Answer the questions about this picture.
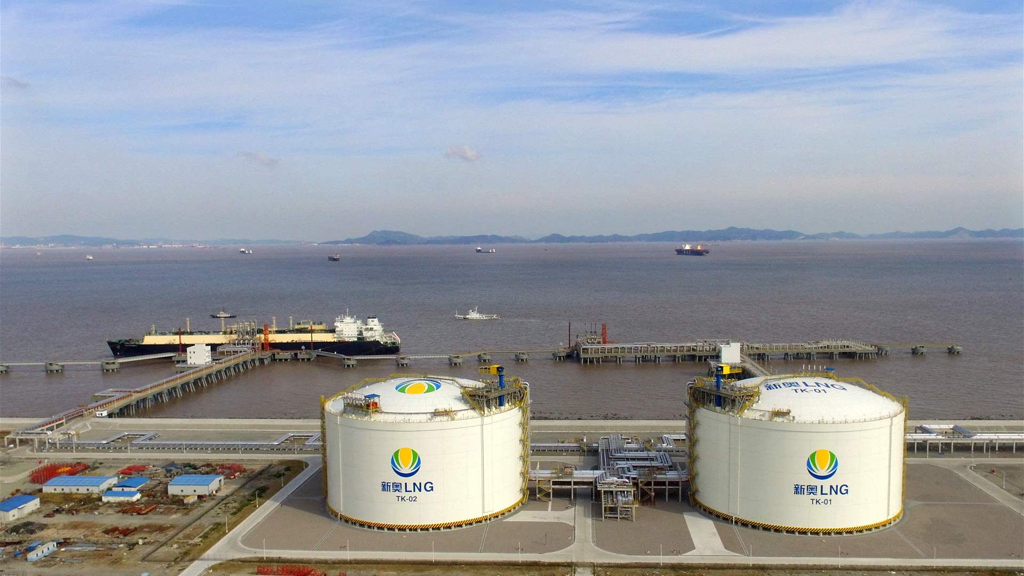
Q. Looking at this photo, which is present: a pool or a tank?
tank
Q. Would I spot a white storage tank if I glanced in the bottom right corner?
Yes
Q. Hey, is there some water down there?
Yes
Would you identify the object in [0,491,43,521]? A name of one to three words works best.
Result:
shed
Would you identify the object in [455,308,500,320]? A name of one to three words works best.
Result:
ship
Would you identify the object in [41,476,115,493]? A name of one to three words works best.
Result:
shed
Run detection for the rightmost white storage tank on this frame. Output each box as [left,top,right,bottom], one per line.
[674,368,910,536]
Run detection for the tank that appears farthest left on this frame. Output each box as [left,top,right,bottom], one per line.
[319,369,540,532]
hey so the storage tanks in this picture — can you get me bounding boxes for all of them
[674,368,910,536]
[319,369,540,532]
